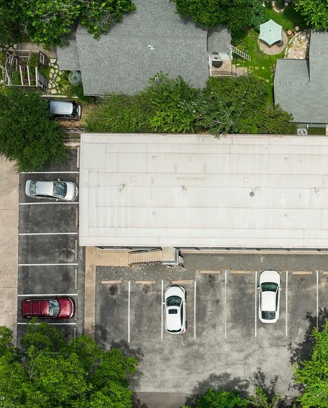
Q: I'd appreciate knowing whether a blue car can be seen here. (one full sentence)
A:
No, I can see no blue car in this picture.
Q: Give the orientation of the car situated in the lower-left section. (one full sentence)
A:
The car situated in the lower-left section has been laid out horizontally relative to the frame.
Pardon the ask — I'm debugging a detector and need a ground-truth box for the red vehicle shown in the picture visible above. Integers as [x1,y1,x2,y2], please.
[20,296,77,321]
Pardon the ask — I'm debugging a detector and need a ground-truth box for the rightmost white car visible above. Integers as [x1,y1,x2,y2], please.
[256,270,282,324]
